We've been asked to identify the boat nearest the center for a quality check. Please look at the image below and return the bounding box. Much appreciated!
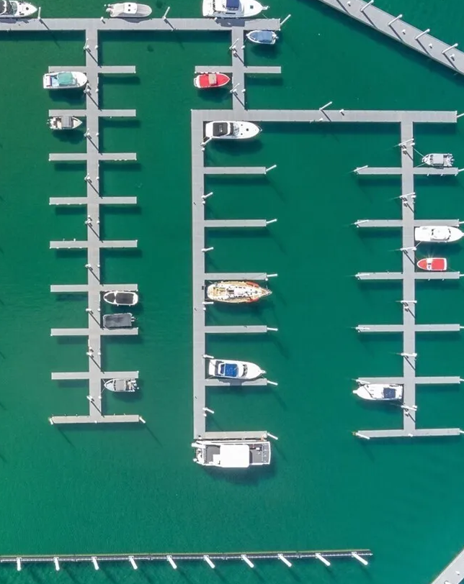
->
[203,281,273,303]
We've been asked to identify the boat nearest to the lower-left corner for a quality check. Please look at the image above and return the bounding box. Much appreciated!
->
[104,379,140,392]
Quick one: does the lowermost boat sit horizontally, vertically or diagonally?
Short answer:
horizontally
